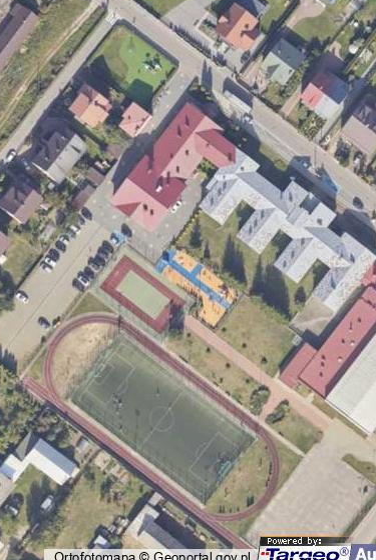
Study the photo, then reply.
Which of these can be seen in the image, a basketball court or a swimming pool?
basketball court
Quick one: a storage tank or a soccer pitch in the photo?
soccer pitch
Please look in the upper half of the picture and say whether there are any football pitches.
No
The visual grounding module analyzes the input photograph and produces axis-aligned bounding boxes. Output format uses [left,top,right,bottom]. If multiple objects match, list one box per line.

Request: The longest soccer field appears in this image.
[70,326,259,506]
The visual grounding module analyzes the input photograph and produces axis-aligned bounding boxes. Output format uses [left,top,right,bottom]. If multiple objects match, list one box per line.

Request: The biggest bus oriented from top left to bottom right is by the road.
[225,90,258,116]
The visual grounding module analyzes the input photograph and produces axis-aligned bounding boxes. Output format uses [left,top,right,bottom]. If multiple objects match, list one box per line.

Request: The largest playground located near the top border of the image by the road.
[119,27,178,96]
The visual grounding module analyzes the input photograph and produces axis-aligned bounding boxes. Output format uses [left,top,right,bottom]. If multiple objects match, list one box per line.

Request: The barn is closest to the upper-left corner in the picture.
[0,4,40,72]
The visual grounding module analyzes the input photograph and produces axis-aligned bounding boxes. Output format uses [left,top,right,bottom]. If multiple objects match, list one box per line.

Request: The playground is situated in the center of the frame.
[155,248,237,326]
